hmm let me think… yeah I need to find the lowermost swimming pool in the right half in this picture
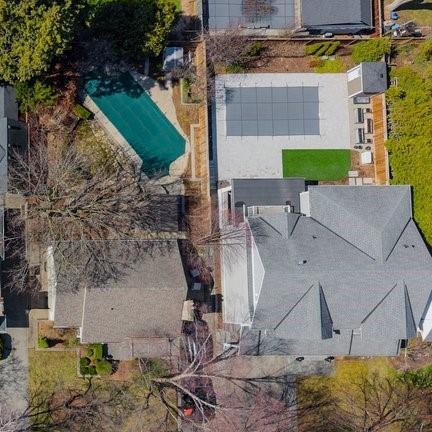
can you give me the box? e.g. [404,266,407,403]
[223,82,324,140]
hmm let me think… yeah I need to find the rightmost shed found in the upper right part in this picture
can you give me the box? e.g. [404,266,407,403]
[348,62,386,97]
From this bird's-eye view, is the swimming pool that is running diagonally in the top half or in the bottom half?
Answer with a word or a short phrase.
top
